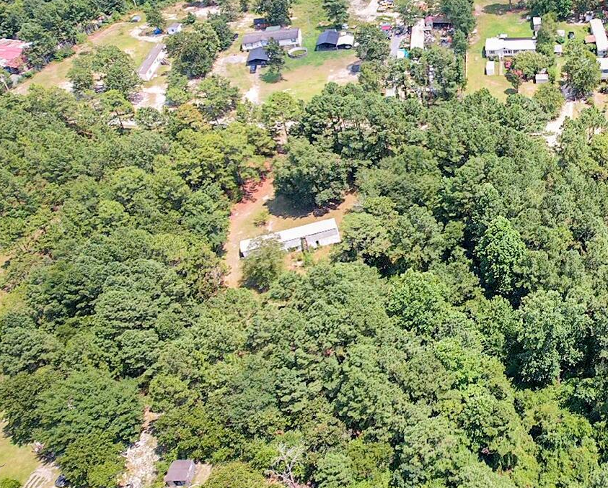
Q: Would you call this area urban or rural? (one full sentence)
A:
The land in this view is best described as rural.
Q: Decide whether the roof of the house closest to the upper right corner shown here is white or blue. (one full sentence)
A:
The roof of the house closest to the upper right corner looks white in the image.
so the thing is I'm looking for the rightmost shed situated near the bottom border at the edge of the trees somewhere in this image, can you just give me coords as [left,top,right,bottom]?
[159,450,195,488]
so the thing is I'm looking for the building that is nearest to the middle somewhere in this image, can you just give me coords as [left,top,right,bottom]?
[236,217,341,265]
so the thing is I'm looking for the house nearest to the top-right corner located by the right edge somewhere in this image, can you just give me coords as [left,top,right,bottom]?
[581,18,608,57]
